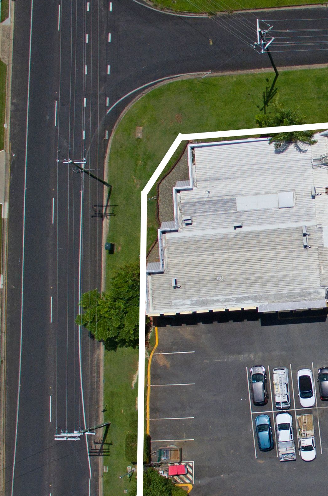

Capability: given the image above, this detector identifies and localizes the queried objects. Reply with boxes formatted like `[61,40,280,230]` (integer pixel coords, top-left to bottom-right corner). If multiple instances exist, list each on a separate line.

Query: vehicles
[296,413,317,462]
[316,367,328,401]
[253,413,275,452]
[272,367,292,409]
[249,364,270,406]
[275,411,297,464]
[296,368,316,408]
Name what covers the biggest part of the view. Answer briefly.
paved ground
